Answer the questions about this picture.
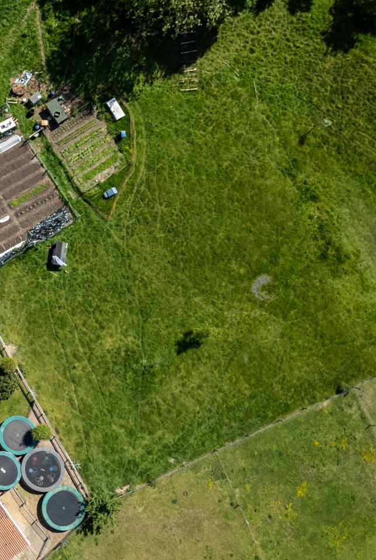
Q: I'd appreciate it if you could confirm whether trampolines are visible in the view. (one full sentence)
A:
Yes, looking at the shot, I can spot a trampoline.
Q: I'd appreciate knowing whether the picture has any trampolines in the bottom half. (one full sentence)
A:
Yes, I can see a trampoline in the bottom half.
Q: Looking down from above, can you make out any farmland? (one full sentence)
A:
Yes, some farmland is visible.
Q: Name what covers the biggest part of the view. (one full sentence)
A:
The largest share of the image is taken up by grass.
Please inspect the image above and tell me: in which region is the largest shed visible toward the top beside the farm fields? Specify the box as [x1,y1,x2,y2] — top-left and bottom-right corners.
[43,99,69,128]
